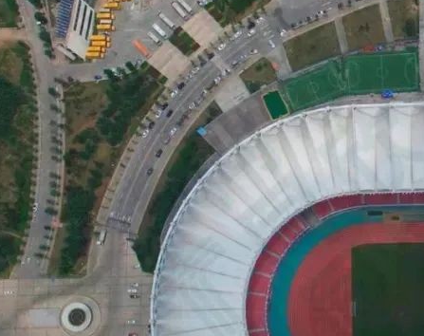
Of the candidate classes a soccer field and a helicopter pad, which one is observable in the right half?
soccer field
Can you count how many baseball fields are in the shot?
0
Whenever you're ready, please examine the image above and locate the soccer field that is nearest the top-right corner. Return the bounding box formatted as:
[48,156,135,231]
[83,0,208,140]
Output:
[342,46,419,95]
